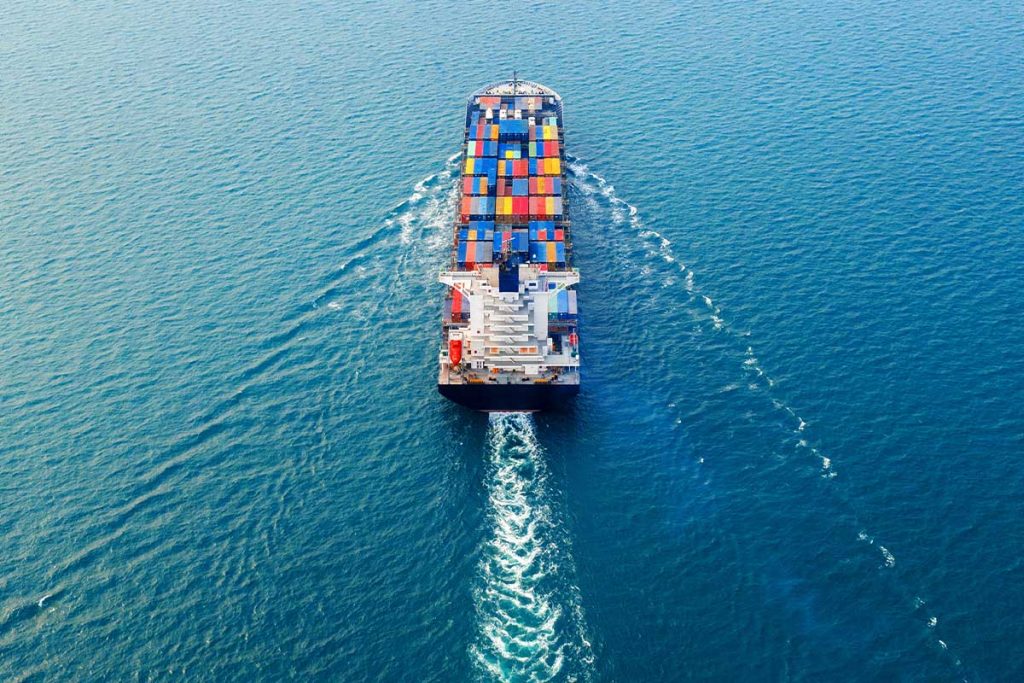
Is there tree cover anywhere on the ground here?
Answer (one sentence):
No, there's no tree cover in this view.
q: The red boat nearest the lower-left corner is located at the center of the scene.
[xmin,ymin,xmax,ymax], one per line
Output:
[450,337,462,367]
